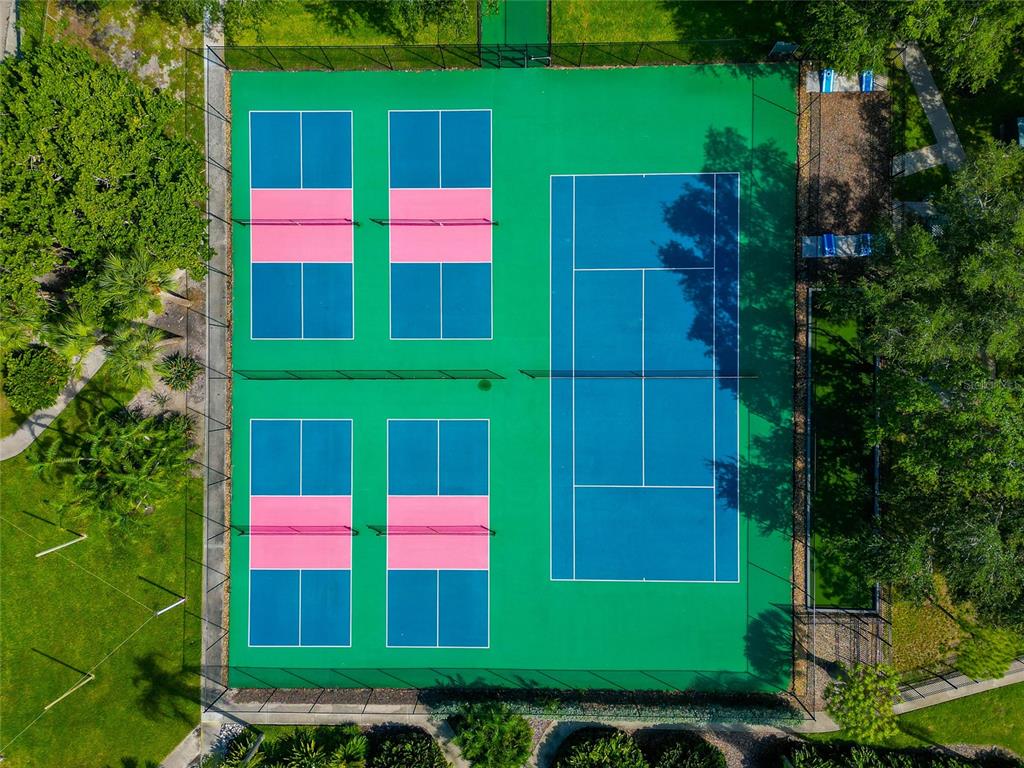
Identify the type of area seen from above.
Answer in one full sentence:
What you see here is a sports ground.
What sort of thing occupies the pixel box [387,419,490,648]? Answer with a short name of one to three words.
sports court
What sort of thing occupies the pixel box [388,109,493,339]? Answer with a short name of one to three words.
sports court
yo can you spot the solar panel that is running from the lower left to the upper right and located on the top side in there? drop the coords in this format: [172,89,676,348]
[763,41,800,75]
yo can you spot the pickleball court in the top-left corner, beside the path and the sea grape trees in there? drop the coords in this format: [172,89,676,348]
[249,110,354,340]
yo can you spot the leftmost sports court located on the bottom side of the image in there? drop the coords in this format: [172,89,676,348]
[248,419,352,647]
